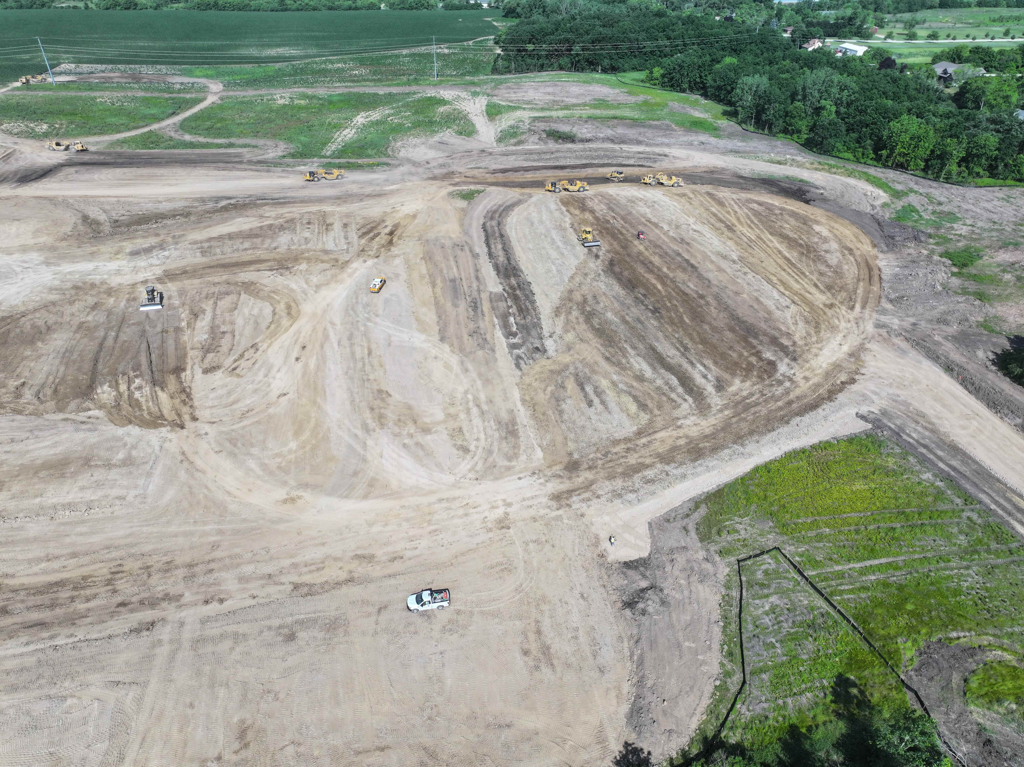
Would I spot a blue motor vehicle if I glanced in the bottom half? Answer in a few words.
No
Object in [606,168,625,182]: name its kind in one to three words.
work vehicle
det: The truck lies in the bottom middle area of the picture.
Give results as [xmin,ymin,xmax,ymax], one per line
[404,588,453,613]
